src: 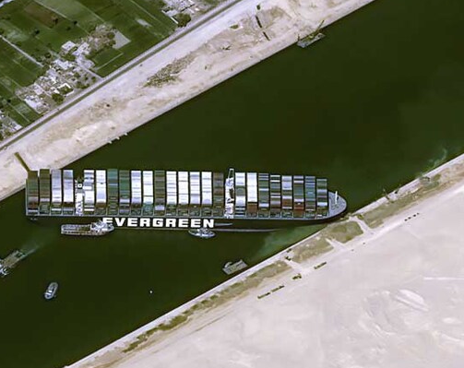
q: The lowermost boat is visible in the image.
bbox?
[44,281,59,298]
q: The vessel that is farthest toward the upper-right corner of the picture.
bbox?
[298,31,326,48]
